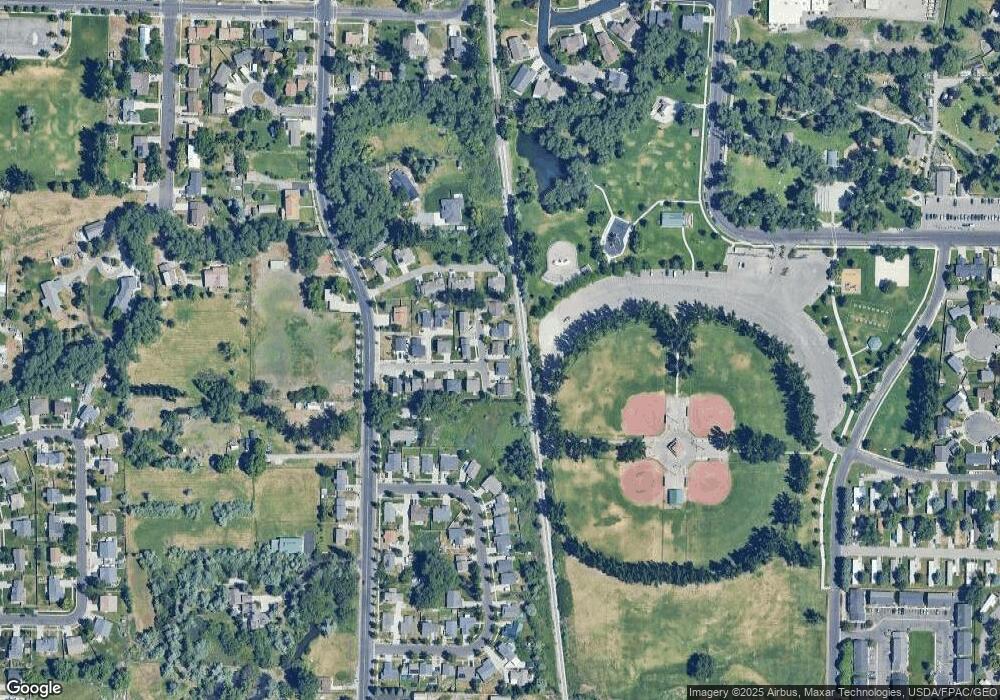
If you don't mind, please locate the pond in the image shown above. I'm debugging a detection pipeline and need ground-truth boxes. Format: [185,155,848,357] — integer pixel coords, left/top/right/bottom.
[515,127,571,192]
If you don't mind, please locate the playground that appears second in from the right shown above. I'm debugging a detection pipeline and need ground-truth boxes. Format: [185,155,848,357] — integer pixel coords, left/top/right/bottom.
[651,97,676,123]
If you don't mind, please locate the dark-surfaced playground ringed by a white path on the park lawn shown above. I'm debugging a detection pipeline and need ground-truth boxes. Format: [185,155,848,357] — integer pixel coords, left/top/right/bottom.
[604,218,631,256]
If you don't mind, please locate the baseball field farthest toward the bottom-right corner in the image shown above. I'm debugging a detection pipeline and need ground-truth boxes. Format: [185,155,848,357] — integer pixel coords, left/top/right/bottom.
[685,453,792,561]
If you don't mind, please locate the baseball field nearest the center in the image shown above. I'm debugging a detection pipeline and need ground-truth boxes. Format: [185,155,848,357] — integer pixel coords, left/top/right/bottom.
[564,331,666,438]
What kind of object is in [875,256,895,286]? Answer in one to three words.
sports court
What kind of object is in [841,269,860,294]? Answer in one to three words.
playground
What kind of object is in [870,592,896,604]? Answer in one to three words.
building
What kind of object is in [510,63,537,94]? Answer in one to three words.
house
